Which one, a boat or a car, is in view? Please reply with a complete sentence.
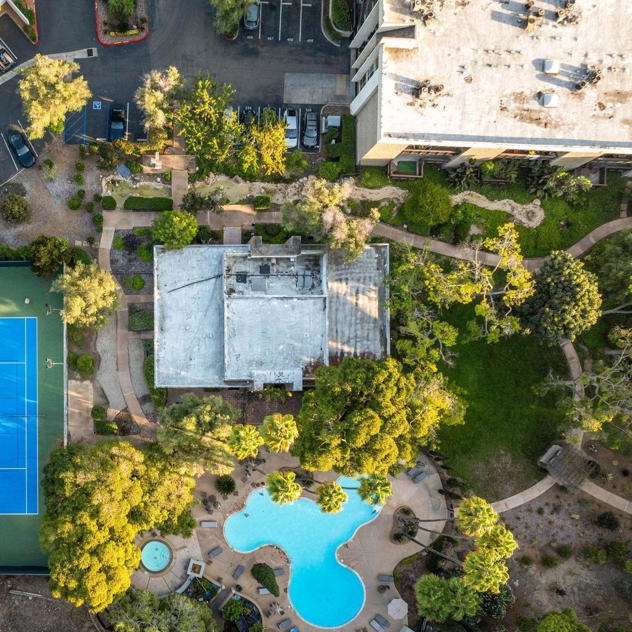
Visible in the photo is a car.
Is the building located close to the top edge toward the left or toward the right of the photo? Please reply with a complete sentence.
The building located close to the top edge sits on the right side.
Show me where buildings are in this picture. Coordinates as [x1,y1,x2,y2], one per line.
[343,0,632,158]
[153,237,390,391]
